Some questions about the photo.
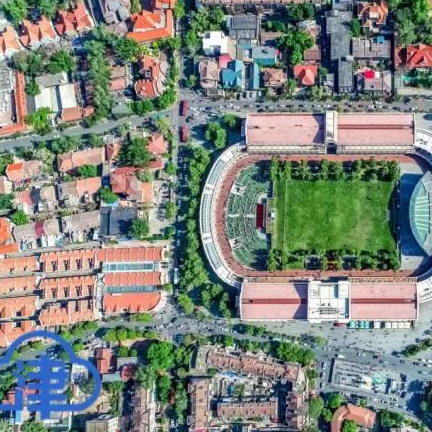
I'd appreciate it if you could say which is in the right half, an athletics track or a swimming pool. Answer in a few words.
athletics track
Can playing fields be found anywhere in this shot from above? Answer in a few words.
Yes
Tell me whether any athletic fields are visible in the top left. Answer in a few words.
No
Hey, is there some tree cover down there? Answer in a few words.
Yes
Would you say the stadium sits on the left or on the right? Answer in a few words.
right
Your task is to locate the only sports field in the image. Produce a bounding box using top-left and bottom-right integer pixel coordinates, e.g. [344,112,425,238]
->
[266,161,400,269]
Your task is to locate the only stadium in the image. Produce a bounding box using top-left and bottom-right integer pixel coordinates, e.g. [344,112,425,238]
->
[199,111,432,323]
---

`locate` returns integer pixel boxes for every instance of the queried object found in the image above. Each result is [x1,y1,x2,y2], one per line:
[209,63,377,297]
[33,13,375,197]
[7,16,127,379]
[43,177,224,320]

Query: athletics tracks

[215,151,416,278]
